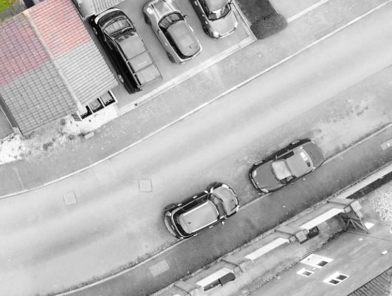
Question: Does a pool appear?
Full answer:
No, the frame has no pool in it.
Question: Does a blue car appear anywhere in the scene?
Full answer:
No, the scene contains no blue car.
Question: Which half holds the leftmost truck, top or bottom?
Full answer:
It is in the top half that the leftmost truck appears.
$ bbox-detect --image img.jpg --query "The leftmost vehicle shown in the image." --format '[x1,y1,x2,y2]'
[91,7,168,97]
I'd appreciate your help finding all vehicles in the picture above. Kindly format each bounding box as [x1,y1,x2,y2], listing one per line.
[163,185,243,244]
[143,0,201,66]
[249,140,335,198]
[188,0,238,40]
[91,7,168,97]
